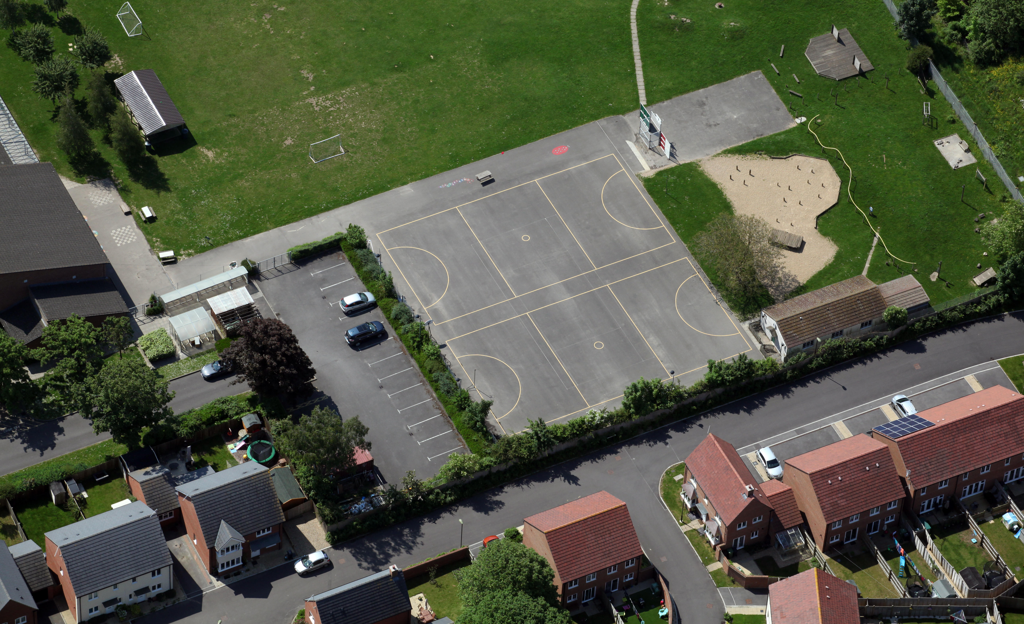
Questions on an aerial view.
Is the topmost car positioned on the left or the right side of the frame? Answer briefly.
left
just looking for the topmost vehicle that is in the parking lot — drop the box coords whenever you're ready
[338,291,376,314]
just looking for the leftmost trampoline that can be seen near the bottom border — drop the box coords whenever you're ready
[904,575,929,598]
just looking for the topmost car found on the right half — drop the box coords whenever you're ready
[888,391,918,417]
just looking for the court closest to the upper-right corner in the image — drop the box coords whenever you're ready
[622,70,798,169]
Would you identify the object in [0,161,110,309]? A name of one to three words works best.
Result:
building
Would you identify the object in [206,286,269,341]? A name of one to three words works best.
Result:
building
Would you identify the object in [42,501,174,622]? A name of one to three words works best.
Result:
house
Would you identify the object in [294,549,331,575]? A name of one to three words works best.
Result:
car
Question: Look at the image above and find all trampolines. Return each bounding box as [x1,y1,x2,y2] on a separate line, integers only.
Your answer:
[981,559,1006,588]
[247,434,275,465]
[904,575,929,598]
